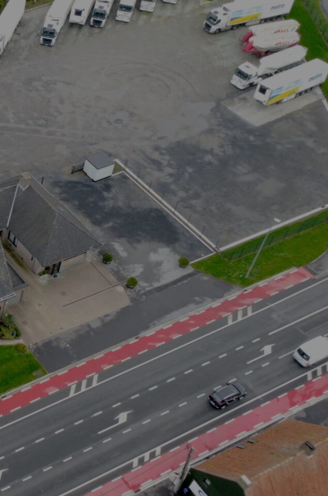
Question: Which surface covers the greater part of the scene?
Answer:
paved ground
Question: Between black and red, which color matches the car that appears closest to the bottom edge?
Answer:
black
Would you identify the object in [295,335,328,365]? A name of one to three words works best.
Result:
van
